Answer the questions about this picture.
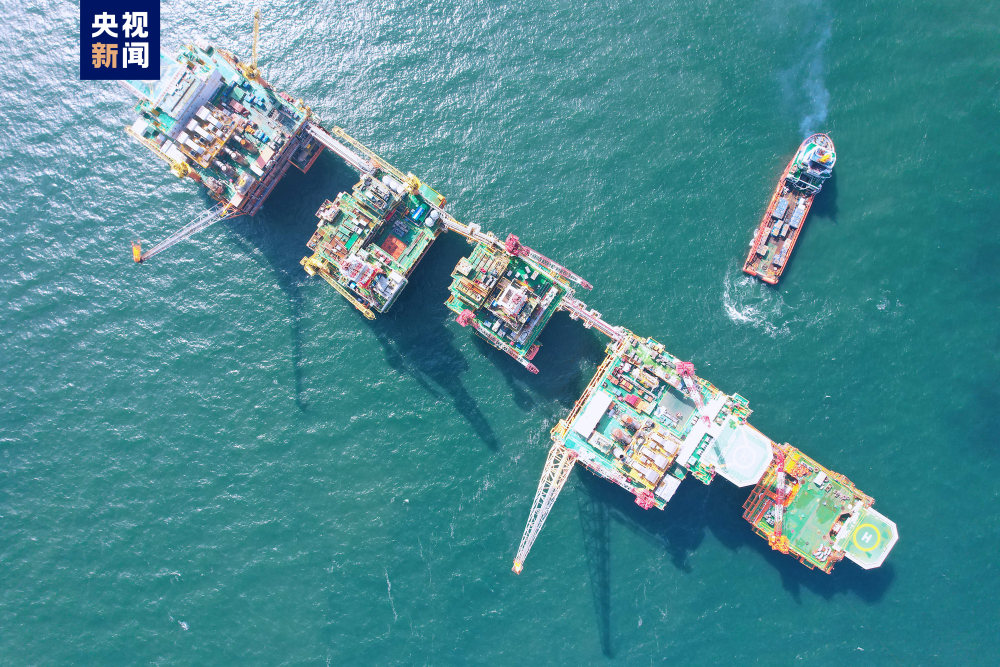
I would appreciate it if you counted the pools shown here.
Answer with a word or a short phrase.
0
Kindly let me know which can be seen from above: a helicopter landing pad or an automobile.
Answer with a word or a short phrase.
helicopter landing pad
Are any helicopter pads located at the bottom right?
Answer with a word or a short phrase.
Yes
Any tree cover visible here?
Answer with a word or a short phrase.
No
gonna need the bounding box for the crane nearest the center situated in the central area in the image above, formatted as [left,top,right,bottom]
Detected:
[455,306,540,374]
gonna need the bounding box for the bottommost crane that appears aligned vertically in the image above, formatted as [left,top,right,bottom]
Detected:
[768,451,787,555]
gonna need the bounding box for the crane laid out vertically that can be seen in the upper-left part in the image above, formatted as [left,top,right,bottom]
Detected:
[241,11,262,84]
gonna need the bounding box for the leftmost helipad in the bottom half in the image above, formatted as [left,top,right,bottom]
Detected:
[701,417,773,487]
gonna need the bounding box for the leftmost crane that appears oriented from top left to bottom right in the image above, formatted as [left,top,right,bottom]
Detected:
[126,127,192,181]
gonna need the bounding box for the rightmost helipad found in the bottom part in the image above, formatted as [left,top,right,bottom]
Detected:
[844,507,899,569]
